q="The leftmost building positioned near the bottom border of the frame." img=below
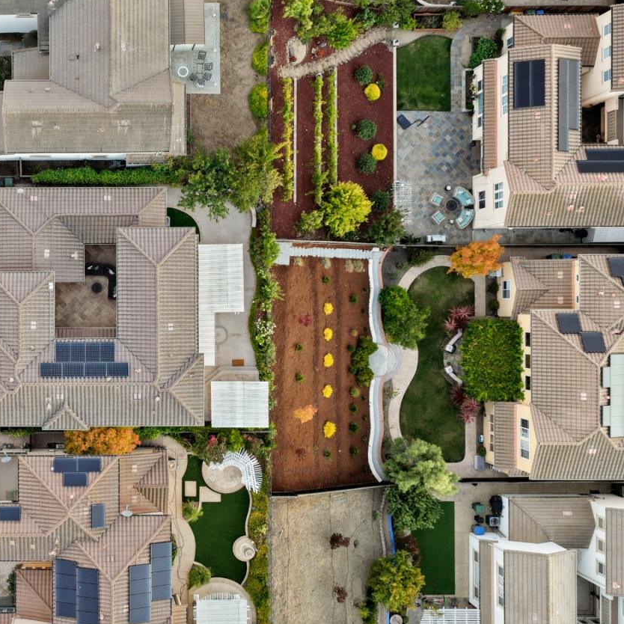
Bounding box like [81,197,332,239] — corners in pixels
[0,448,188,624]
